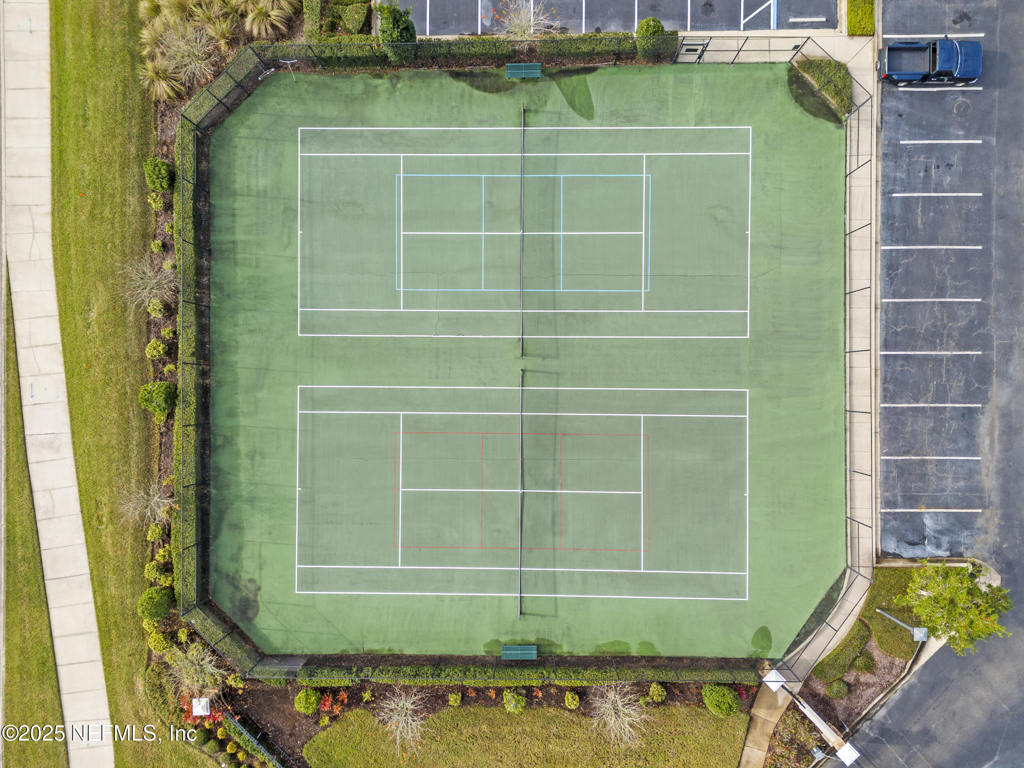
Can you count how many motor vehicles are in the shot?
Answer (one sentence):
I count 1 motor vehicle.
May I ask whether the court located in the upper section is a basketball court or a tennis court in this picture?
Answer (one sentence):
The court located in the upper section in the image is a tennis court.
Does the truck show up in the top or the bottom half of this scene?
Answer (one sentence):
The truck sits in the top half of the picture.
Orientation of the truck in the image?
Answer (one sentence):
The truck has been laid out horizontally relative to the frame.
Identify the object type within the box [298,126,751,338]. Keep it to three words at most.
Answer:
tennis court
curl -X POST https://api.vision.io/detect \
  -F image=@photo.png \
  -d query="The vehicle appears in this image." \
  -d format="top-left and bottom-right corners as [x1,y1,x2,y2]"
[875,36,982,85]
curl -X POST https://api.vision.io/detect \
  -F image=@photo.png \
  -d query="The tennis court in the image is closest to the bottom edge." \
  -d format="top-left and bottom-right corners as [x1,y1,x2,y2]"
[296,385,749,600]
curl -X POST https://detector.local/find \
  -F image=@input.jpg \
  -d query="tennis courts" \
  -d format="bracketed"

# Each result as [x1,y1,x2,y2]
[296,385,749,600]
[298,126,751,338]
